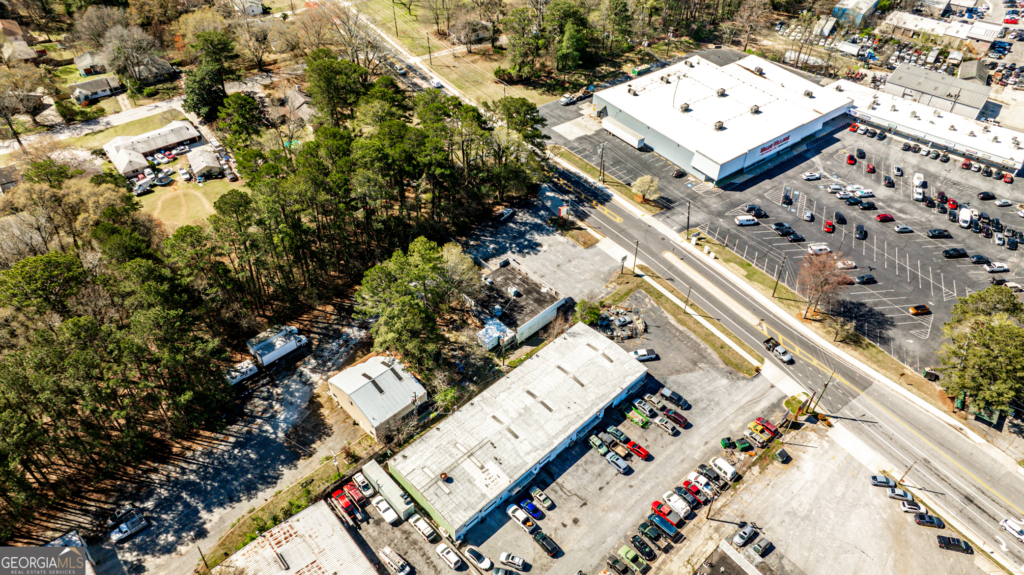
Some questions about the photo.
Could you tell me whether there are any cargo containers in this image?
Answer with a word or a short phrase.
Yes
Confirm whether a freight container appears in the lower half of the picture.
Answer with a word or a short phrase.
Yes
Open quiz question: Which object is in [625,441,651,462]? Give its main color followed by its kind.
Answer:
red car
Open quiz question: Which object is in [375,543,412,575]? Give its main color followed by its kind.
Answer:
white van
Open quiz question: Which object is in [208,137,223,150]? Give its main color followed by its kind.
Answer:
white vehicle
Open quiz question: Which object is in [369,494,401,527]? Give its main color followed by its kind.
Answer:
white truck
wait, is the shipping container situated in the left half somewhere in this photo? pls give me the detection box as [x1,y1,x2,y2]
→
[361,456,416,522]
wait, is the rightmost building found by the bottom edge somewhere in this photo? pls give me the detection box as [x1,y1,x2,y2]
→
[694,536,777,575]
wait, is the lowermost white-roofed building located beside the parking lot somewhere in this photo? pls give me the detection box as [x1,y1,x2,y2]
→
[388,322,651,543]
